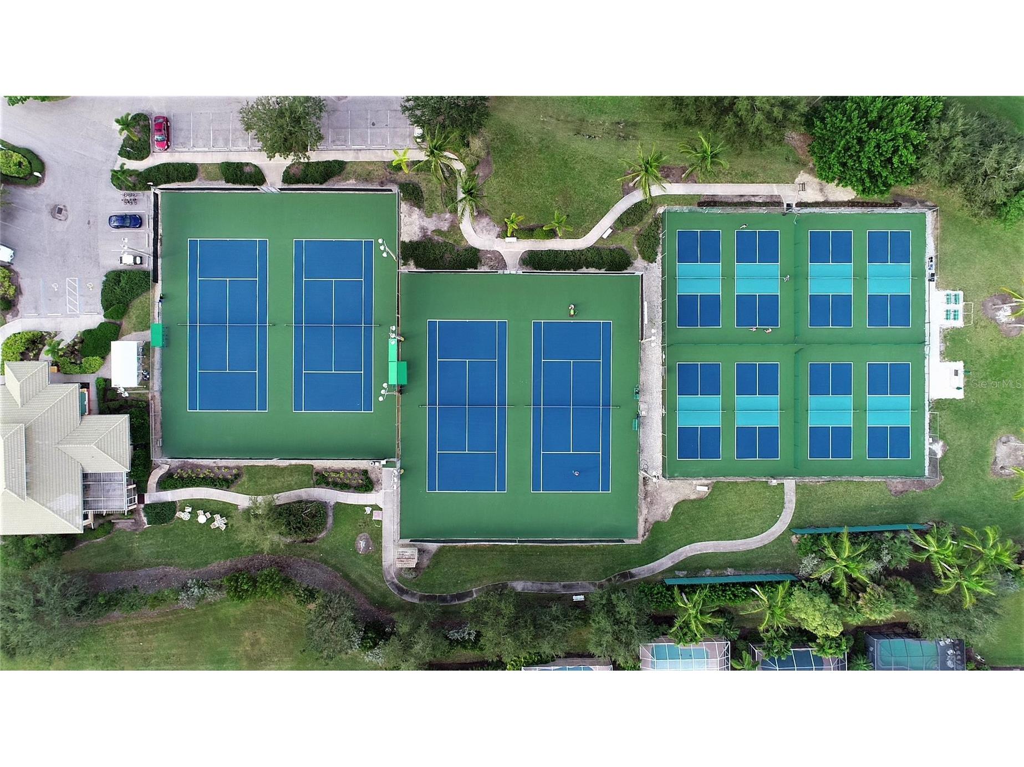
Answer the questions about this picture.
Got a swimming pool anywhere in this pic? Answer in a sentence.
Yes, the picture does show a swimming pool.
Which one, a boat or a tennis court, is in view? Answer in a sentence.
There is a tennis court in the scene.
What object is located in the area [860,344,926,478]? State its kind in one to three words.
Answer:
sports court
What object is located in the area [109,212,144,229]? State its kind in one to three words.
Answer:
car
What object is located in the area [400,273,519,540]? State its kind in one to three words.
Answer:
tennis court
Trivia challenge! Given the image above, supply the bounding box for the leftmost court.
[161,192,280,459]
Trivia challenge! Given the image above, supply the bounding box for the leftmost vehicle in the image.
[0,243,24,264]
